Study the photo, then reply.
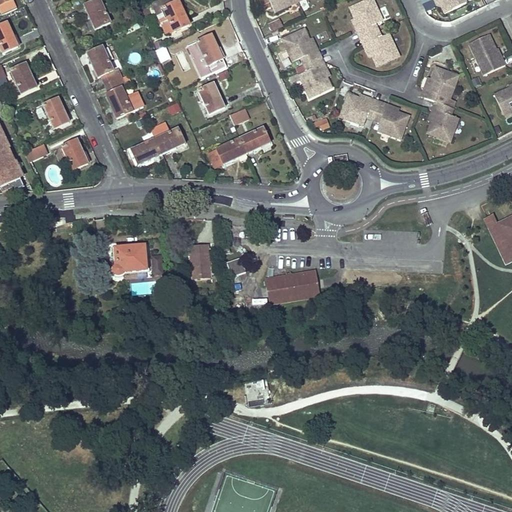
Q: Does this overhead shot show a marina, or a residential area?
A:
residential area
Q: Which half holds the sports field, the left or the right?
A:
right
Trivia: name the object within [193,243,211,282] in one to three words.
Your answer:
house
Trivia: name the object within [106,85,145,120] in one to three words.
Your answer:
house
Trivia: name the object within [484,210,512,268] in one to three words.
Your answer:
building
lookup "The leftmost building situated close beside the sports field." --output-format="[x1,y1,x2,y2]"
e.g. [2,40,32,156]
[245,380,272,408]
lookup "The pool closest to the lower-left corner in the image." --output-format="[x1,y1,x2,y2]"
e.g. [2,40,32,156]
[130,280,156,296]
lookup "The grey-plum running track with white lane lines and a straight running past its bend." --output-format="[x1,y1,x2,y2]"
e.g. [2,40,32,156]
[157,416,505,512]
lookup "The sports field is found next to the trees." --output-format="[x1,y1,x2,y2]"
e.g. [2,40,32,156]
[236,395,512,512]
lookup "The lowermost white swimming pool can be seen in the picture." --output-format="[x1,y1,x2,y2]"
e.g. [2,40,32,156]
[45,164,62,188]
